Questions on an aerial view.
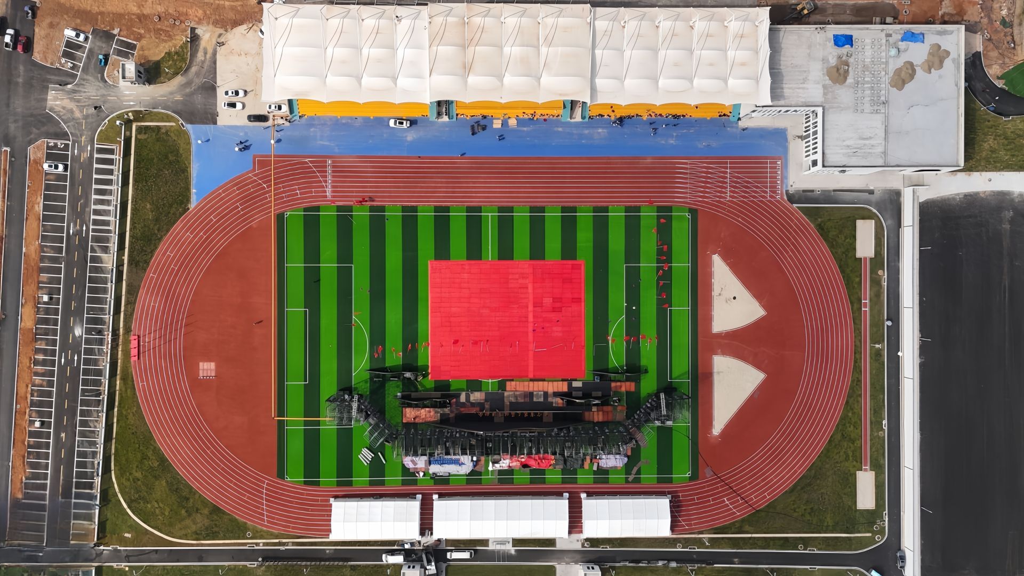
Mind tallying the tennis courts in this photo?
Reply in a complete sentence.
The photo contains no tennis courts.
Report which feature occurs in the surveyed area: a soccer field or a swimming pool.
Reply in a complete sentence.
There is a soccer field in the scene.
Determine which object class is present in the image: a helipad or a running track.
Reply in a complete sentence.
I can see a running track in this picture.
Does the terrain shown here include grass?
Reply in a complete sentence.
Yes, there is grass in the image.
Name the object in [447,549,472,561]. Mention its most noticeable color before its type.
white vehicle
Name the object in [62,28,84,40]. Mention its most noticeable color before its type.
white vehicle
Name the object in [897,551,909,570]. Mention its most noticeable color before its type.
gray vehicle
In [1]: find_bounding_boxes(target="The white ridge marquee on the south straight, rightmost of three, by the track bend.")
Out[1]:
[580,495,672,538]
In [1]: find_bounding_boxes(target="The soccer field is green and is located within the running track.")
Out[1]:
[277,205,696,486]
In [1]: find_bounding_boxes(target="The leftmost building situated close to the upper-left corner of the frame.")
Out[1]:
[119,62,146,87]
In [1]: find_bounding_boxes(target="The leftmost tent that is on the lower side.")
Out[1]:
[330,496,423,540]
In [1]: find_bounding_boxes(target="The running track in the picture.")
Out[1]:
[134,156,854,534]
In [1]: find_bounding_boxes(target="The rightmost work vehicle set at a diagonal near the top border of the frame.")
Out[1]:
[776,0,813,25]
